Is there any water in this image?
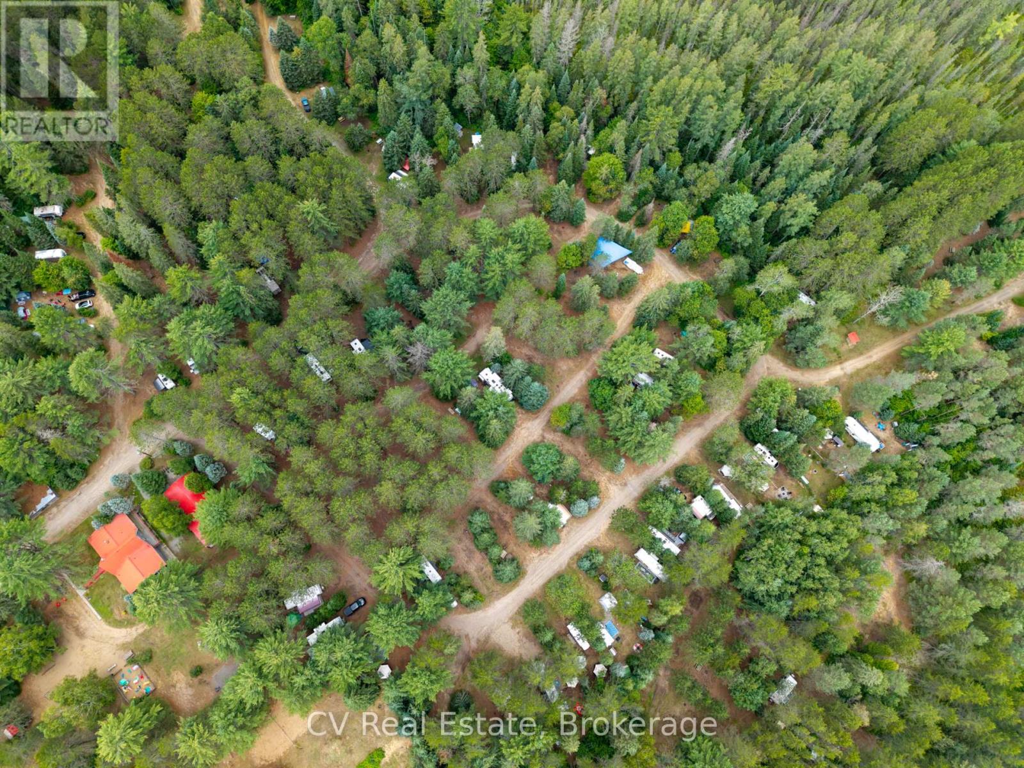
No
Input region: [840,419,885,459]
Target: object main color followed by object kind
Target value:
white trailer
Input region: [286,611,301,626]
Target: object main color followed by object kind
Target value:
green umbrella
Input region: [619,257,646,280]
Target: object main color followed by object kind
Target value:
white camper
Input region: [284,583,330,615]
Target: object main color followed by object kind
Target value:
white trailer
